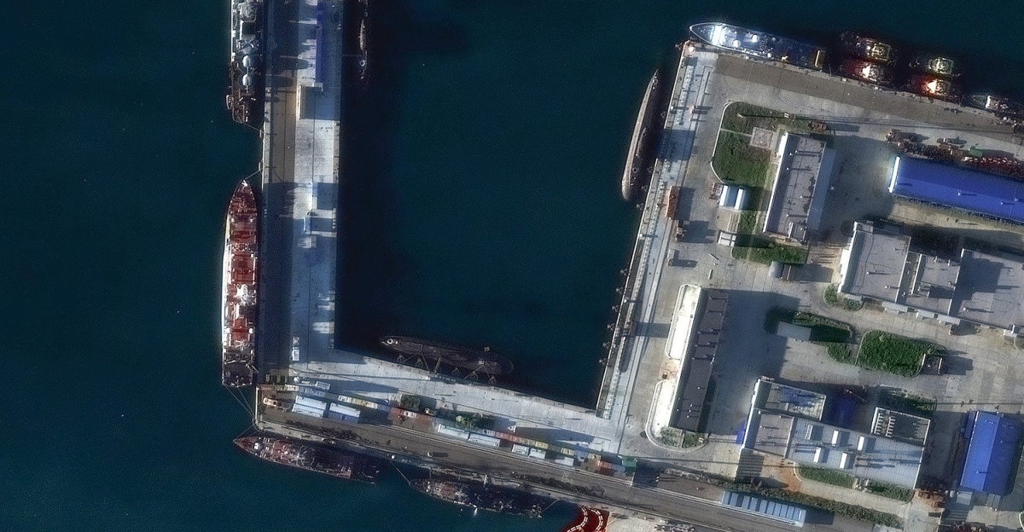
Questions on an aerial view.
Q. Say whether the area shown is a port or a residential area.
port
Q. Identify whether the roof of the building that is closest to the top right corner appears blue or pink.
blue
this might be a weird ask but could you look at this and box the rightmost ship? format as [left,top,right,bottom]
[973,94,1024,120]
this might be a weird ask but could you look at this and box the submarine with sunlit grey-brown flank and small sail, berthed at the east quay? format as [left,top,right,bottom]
[622,70,659,201]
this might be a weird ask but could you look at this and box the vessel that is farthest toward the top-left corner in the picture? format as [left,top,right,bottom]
[226,0,263,129]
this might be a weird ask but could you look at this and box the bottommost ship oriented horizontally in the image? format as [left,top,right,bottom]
[410,481,545,520]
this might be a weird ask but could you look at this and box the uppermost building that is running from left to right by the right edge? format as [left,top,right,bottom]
[889,155,1024,225]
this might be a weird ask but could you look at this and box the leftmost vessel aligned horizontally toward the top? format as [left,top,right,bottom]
[690,22,825,70]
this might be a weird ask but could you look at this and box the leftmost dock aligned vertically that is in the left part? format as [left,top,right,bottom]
[256,0,342,385]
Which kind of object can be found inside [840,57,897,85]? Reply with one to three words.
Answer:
boat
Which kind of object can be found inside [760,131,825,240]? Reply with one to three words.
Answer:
building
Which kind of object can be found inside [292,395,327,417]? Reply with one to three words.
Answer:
shed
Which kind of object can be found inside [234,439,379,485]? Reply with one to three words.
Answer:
ship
